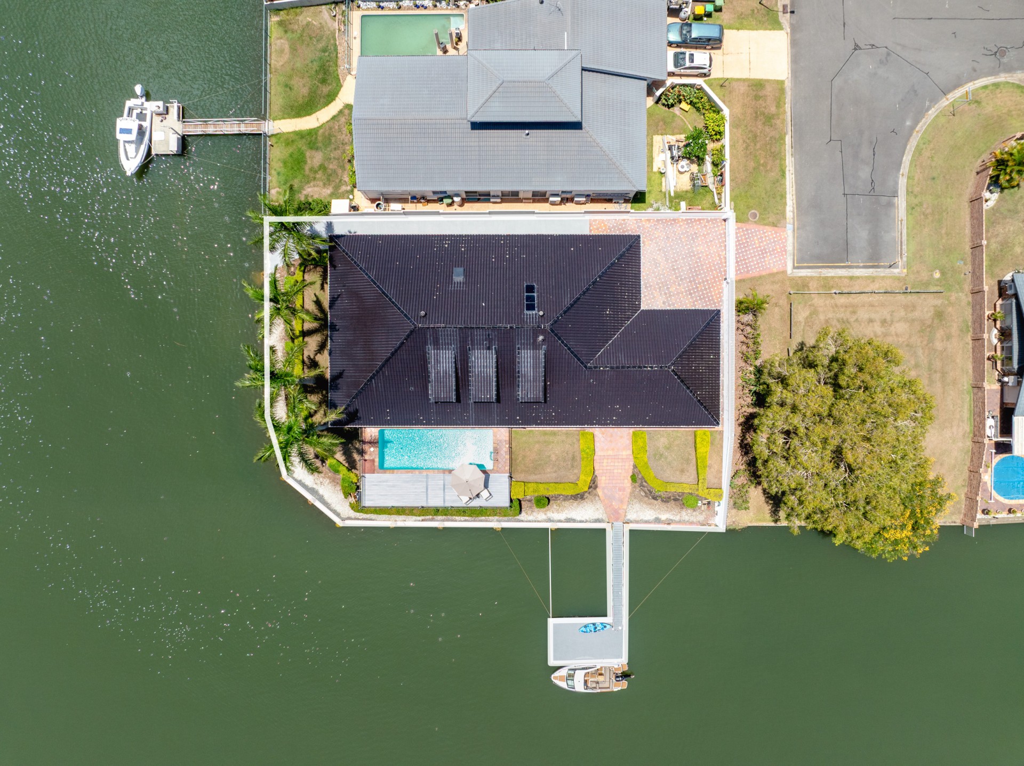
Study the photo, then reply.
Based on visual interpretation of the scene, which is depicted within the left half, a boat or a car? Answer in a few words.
boat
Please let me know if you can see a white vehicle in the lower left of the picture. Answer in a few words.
No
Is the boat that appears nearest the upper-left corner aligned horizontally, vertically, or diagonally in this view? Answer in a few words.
vertically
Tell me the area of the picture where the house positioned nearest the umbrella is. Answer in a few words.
center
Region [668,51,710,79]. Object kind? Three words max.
car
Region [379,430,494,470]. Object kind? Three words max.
swimming pool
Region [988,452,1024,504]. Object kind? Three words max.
swimming pool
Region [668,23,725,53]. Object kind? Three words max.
car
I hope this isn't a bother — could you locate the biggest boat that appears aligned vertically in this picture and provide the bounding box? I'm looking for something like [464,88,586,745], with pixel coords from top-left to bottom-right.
[115,89,153,178]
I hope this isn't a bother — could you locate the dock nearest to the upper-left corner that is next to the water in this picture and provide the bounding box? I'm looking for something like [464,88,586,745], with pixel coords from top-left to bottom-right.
[153,105,185,156]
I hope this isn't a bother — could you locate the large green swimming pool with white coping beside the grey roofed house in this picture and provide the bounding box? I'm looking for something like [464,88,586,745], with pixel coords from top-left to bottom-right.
[360,13,465,54]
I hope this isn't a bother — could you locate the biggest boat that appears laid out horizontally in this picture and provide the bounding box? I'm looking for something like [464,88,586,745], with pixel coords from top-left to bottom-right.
[551,664,637,693]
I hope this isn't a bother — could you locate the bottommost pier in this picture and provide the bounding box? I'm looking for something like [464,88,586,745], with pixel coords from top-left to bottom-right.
[549,616,627,665]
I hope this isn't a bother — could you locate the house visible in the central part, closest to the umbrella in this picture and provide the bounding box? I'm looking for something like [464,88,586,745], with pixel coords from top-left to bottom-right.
[327,233,723,429]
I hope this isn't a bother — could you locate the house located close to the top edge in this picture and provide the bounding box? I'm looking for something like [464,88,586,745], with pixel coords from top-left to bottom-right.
[352,0,668,208]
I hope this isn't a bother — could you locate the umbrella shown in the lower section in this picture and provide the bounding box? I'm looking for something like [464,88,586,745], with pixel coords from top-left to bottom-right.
[446,462,483,499]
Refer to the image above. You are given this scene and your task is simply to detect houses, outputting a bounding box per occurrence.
[352,0,668,208]
[327,233,723,429]
[986,272,1024,457]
